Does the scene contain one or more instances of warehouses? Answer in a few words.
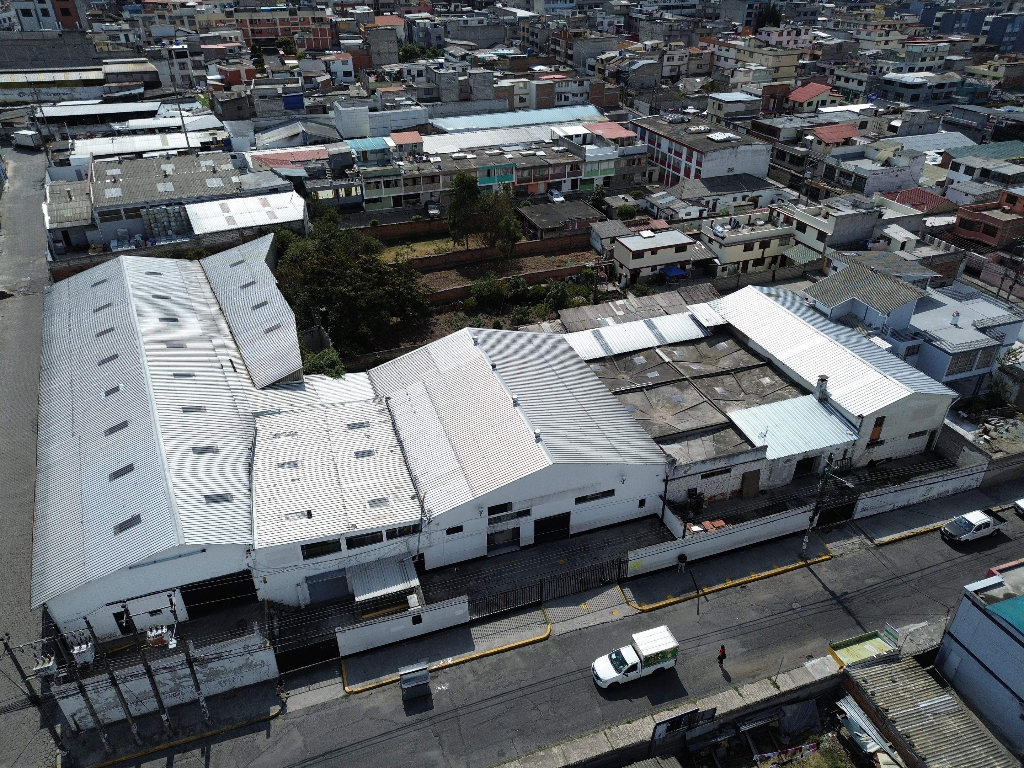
Yes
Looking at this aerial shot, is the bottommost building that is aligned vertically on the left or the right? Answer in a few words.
right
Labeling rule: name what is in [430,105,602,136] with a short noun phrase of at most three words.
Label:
building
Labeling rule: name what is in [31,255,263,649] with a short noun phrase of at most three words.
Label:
warehouse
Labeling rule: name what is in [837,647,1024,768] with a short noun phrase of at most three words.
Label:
building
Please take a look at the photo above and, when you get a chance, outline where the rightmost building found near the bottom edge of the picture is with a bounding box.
[938,567,1024,758]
